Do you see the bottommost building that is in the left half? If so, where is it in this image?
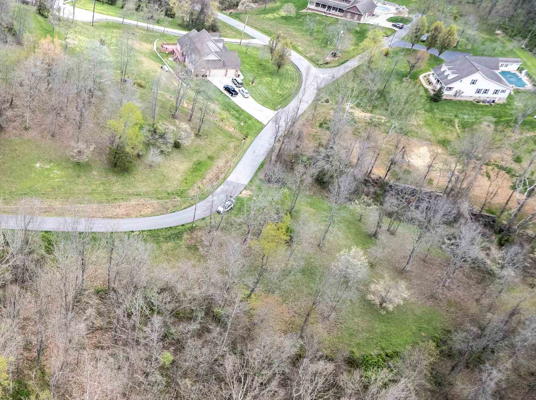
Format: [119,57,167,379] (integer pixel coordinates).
[161,25,243,77]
